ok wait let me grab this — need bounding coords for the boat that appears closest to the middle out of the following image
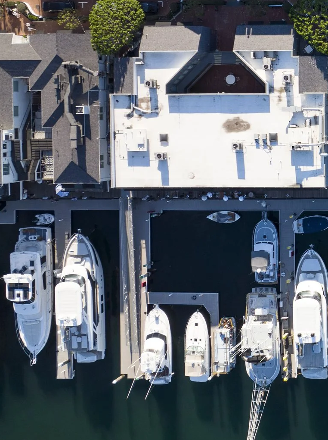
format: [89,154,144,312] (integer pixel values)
[206,211,242,223]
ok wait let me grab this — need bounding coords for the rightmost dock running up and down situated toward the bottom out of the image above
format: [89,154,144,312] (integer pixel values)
[280,211,304,380]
